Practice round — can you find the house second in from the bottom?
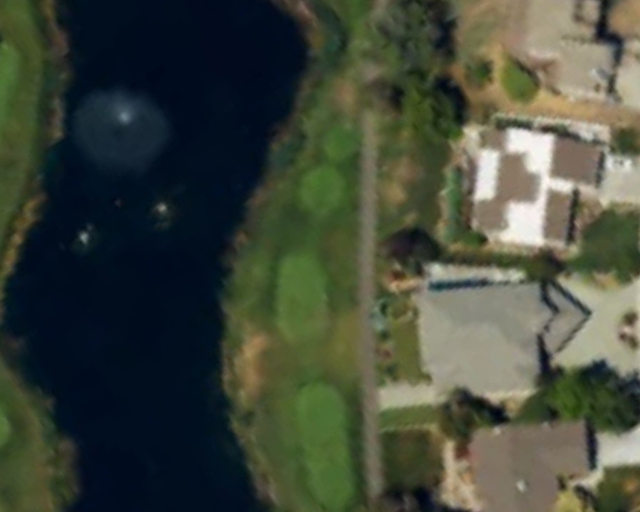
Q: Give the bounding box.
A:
[420,282,591,394]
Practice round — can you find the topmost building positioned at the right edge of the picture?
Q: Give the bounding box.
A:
[517,0,620,95]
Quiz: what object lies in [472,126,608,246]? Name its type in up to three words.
house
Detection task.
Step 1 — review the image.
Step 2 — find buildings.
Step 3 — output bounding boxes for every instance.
[472,126,608,246]
[420,282,591,394]
[517,0,620,95]
[472,425,593,512]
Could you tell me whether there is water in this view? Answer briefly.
Yes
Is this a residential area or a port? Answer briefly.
residential area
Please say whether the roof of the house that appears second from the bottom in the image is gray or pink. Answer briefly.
gray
